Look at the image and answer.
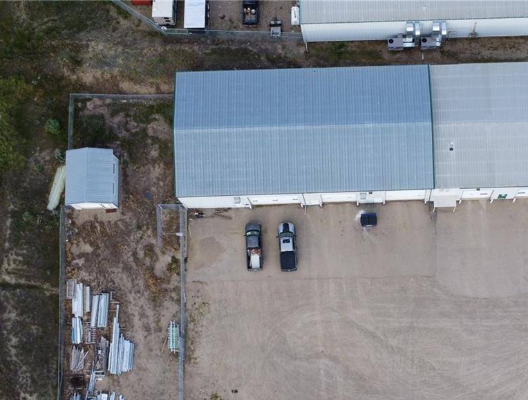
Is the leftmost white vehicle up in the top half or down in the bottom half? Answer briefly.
top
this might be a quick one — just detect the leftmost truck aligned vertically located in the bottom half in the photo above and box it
[242,222,265,271]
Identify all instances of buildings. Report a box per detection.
[65,147,119,214]
[299,0,528,54]
[172,62,528,212]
